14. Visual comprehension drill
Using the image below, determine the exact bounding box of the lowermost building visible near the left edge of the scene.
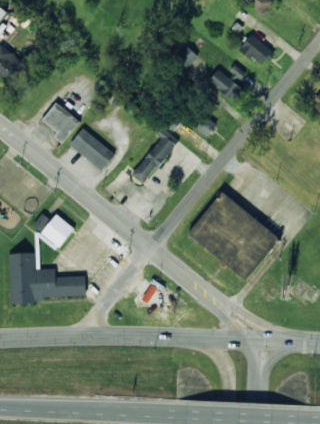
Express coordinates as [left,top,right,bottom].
[10,253,88,306]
